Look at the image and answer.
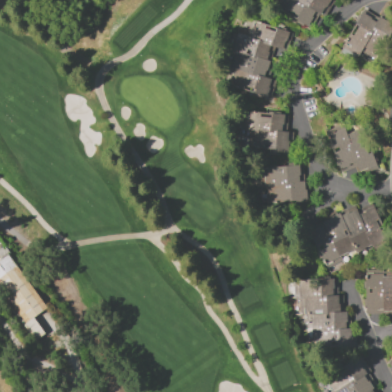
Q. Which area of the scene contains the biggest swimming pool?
top right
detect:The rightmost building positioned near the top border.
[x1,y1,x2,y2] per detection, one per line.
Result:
[344,8,392,56]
